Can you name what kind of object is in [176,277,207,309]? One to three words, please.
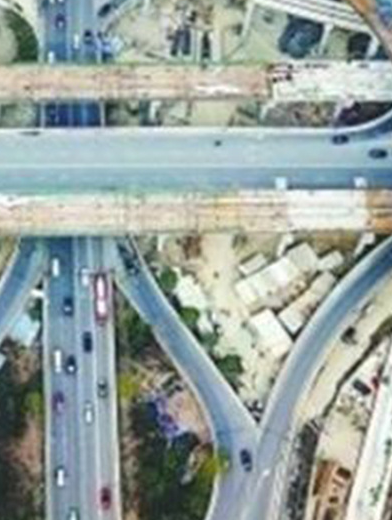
shed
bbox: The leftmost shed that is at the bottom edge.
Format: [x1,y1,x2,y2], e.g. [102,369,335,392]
[312,460,335,497]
